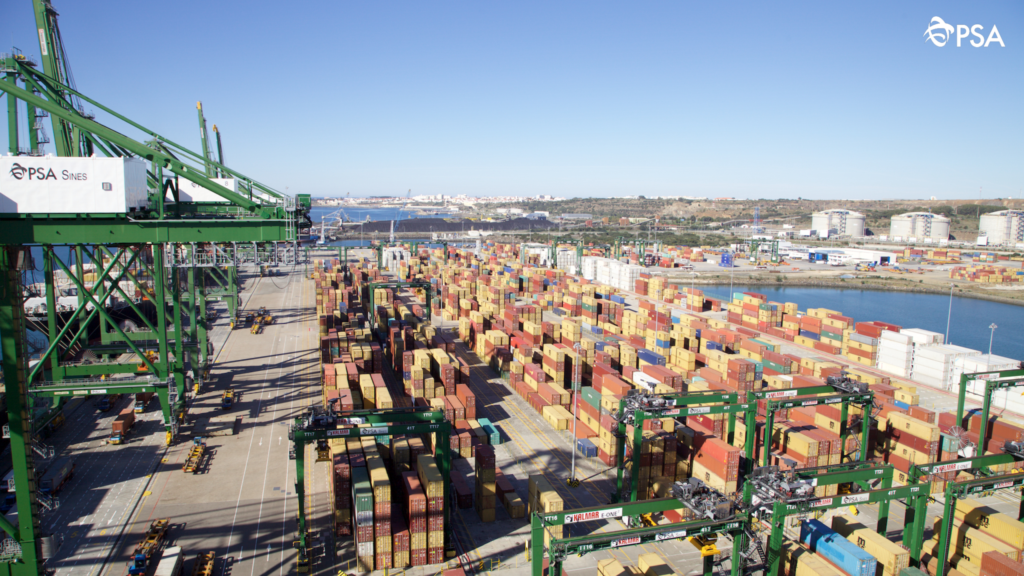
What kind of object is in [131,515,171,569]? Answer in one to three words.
work vehicle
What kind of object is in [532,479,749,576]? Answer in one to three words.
container crane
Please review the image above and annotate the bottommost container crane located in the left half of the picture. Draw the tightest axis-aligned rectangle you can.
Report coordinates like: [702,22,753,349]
[287,389,451,576]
